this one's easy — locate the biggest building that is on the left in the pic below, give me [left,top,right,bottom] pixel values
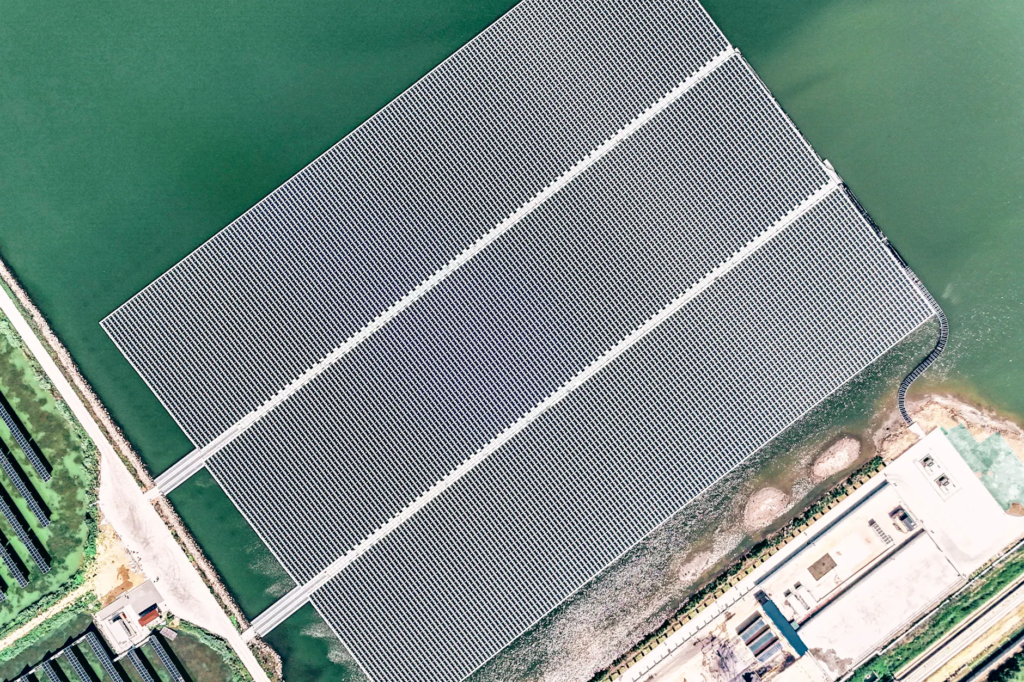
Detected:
[96,578,170,653]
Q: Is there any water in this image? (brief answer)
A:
Yes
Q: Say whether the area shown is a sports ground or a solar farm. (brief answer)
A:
solar farm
